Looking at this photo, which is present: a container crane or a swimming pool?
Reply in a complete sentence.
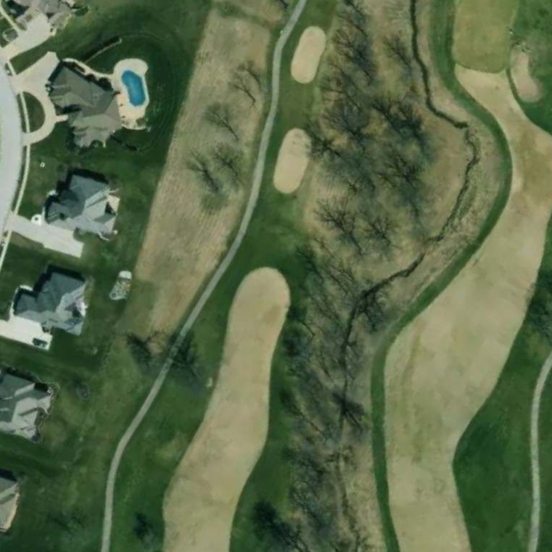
There is a swimming pool in the scene.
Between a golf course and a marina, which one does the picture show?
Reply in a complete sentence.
The picture captures a golf course.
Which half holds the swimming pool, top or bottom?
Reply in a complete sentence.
Seen from above, the swimming pool lies in the top half of the view.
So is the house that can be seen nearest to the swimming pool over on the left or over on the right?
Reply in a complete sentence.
The house that can be seen nearest to the swimming pool is on the left side of the image.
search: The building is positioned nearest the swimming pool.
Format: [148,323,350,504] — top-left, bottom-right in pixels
[45,63,120,147]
